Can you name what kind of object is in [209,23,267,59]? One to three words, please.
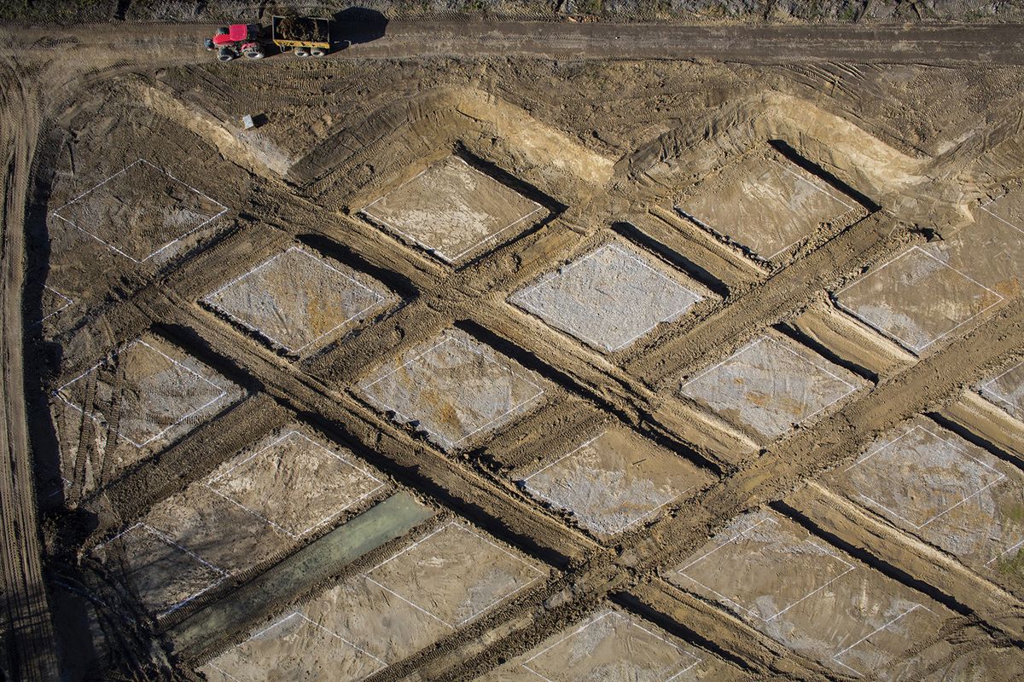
work vehicle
